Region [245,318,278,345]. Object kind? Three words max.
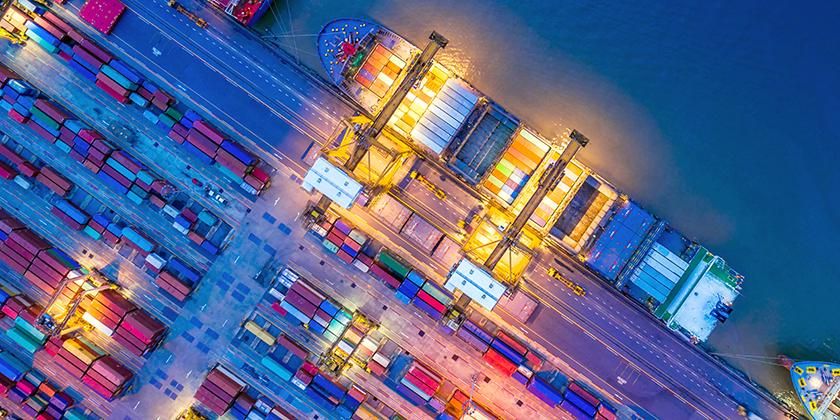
shipping container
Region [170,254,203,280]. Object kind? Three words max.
shipping container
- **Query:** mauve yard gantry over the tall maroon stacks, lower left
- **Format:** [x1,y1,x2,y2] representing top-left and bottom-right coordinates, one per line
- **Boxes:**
[35,262,123,332]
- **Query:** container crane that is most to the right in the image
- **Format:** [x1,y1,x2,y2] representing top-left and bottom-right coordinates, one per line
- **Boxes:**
[439,129,590,331]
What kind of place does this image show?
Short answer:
port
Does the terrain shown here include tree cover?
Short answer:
No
